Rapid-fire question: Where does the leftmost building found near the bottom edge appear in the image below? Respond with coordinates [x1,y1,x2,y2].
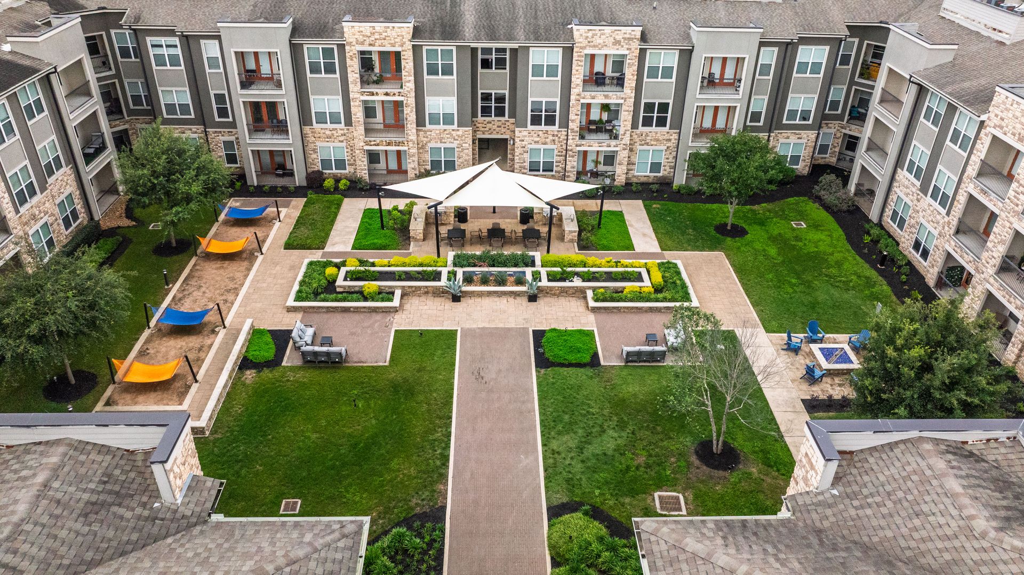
[0,408,375,575]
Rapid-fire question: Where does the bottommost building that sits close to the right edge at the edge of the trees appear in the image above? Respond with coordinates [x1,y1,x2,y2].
[627,416,1024,575]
